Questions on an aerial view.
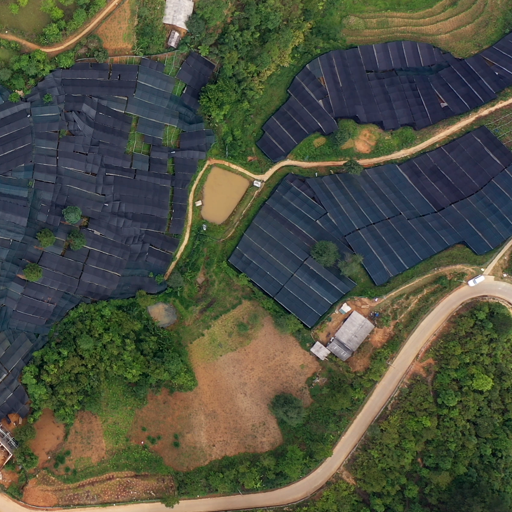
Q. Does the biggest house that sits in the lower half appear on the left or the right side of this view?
right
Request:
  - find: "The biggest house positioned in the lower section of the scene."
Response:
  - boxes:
[327,311,375,361]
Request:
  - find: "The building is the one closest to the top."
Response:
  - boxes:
[162,0,194,31]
